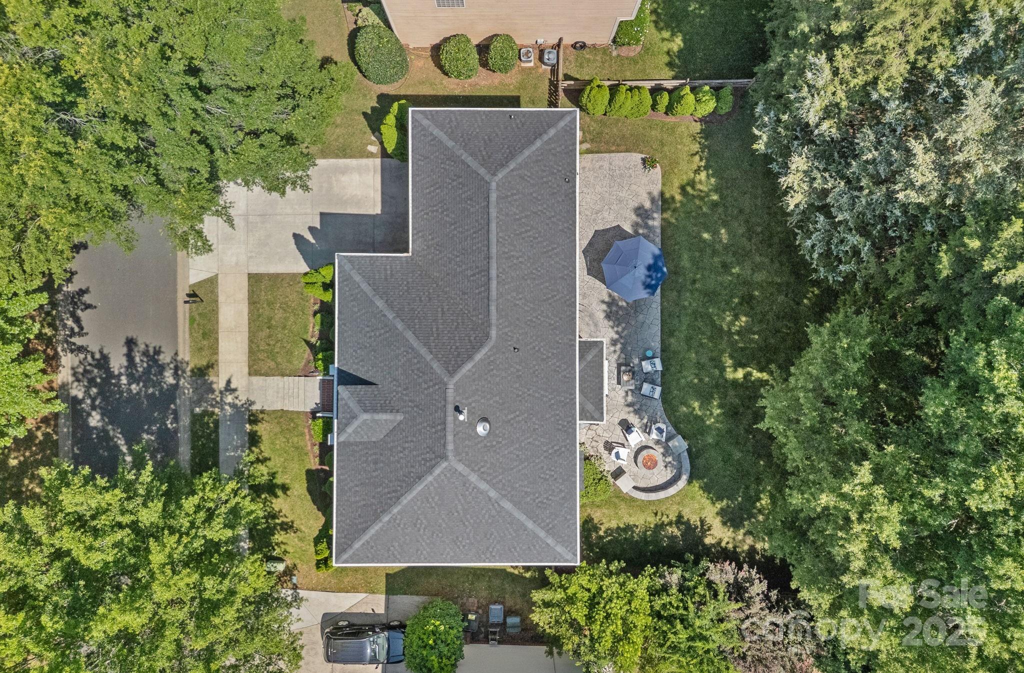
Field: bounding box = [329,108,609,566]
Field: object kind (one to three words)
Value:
house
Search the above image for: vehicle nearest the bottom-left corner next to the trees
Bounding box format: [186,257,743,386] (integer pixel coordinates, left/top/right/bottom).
[321,620,405,671]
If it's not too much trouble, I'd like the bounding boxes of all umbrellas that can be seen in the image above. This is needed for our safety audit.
[601,235,667,301]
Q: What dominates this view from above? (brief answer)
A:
trees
